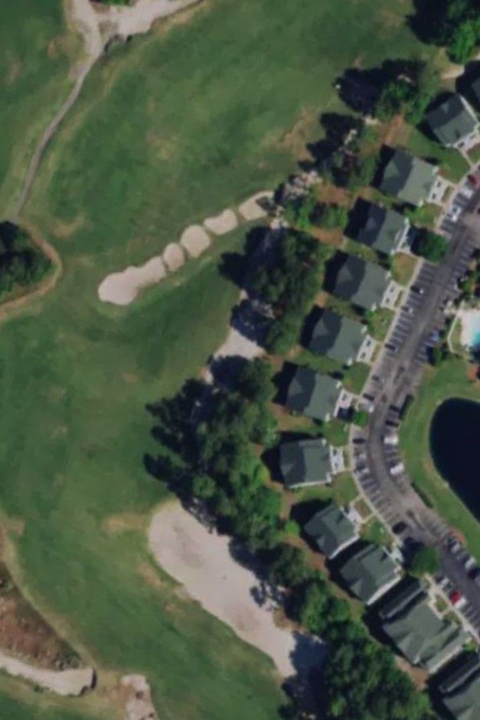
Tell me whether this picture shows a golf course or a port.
golf course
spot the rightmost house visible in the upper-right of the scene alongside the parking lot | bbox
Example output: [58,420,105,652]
[427,96,480,152]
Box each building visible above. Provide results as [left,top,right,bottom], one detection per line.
[335,257,399,313]
[286,367,352,422]
[281,439,341,488]
[343,544,406,604]
[427,96,480,152]
[380,149,445,209]
[309,309,374,365]
[357,203,417,257]
[305,502,364,558]
[446,658,480,720]
[384,584,469,673]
